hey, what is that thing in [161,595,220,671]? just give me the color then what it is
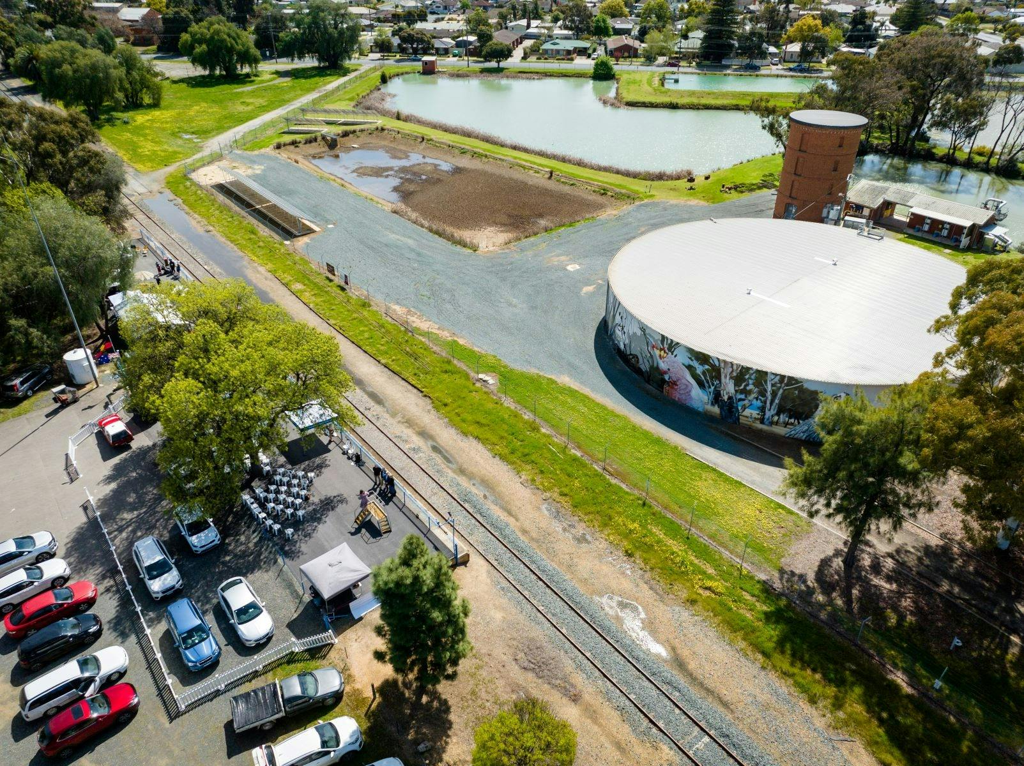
blue car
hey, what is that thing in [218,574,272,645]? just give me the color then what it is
white car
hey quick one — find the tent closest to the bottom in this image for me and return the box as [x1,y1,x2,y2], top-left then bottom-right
[300,543,373,625]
